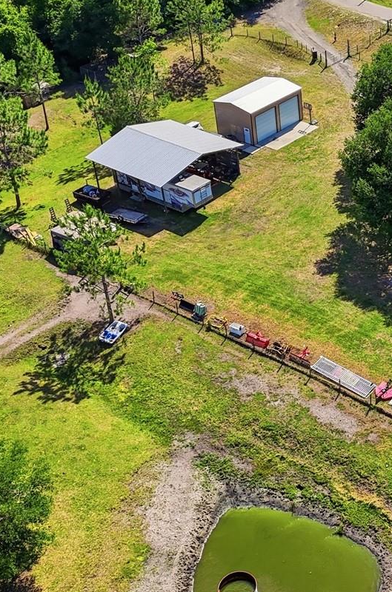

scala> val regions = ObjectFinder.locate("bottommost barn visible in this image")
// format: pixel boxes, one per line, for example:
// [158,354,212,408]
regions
[86,120,243,221]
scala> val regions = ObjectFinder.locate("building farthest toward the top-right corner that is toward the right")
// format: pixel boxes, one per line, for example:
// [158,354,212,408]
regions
[212,77,301,145]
